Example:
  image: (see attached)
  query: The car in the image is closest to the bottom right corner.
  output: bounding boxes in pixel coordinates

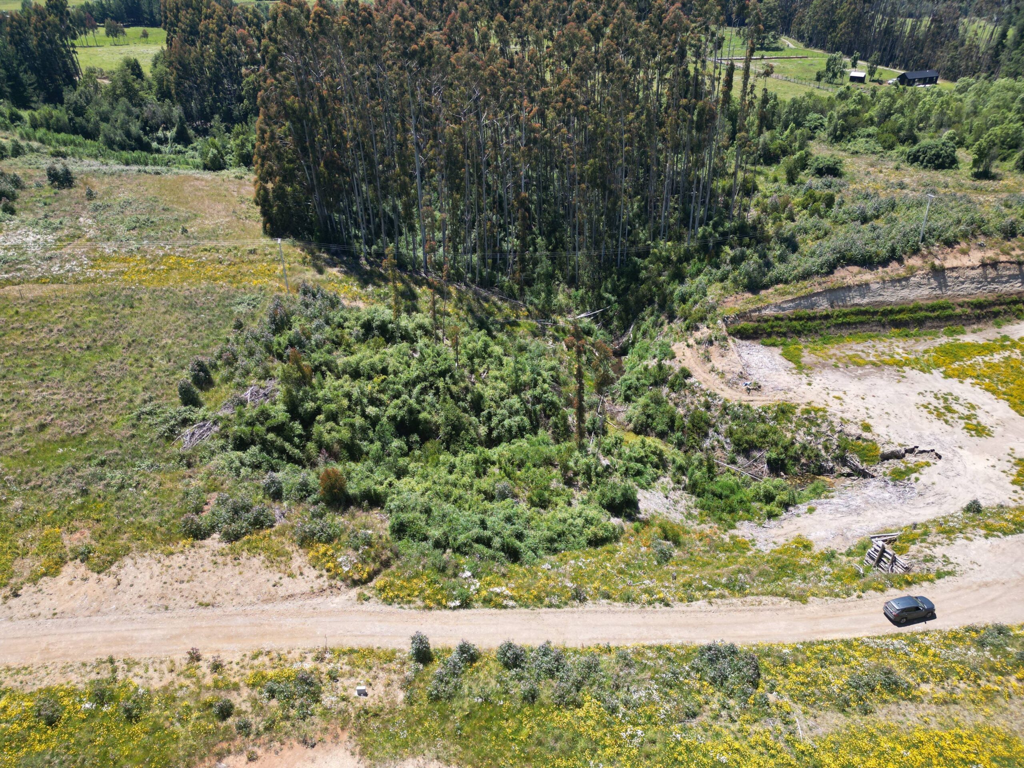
[882,589,939,621]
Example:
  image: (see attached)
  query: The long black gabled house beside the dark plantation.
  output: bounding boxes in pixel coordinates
[897,62,949,87]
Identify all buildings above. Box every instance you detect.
[846,67,866,82]
[897,62,949,87]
